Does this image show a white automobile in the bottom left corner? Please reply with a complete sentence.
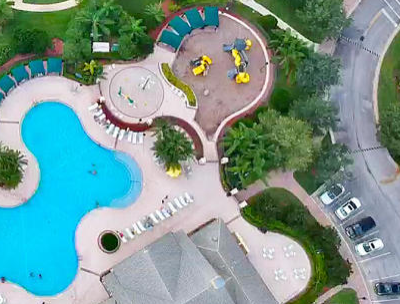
No, there's no white automobile to be seen in the bottom left corner.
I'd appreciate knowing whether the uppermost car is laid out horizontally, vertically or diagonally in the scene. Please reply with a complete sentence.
Seen from above, the uppermost car lies diagonally.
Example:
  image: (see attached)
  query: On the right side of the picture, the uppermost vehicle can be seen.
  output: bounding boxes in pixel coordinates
[320,181,348,205]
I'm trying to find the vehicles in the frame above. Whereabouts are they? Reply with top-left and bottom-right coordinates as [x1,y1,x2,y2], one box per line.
[357,237,388,258]
[347,214,381,241]
[377,281,400,295]
[320,181,348,205]
[336,195,363,219]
